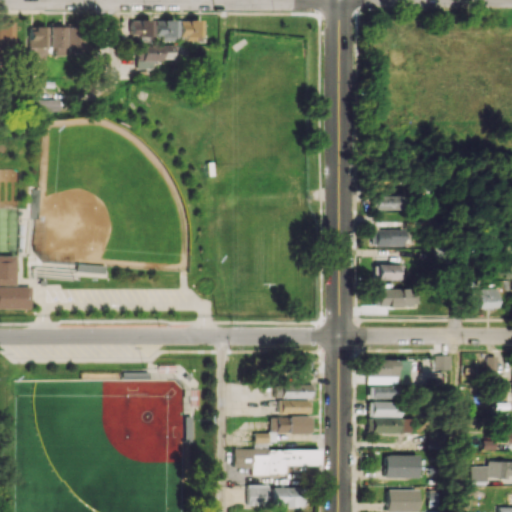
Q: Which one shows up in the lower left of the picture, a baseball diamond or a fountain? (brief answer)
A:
baseball diamond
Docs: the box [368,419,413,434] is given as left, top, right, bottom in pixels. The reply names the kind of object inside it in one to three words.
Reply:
house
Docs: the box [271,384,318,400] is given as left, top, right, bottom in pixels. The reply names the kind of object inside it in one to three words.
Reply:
house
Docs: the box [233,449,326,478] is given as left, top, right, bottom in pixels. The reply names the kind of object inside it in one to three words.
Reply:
building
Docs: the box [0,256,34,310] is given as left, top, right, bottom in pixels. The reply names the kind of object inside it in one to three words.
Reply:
building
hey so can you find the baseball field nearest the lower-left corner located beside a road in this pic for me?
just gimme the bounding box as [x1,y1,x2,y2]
[16,381,184,512]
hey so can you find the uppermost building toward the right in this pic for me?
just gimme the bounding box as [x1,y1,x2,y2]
[374,196,405,212]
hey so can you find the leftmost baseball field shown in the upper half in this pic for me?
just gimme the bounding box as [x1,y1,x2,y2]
[34,117,188,268]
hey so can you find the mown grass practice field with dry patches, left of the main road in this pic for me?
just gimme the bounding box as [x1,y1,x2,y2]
[228,34,308,317]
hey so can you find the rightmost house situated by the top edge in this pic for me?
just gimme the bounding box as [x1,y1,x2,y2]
[180,20,207,43]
